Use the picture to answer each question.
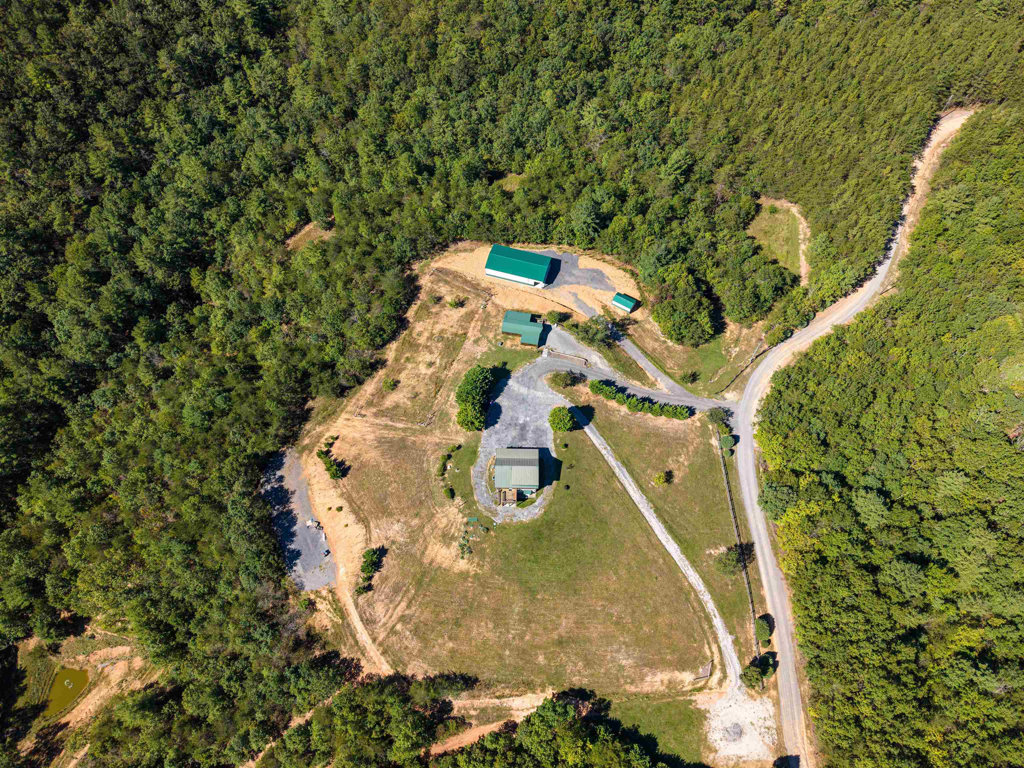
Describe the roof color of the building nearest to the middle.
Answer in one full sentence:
From above, the roof of the building nearest to the middle looks green.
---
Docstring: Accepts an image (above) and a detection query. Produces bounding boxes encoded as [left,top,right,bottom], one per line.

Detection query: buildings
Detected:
[483,243,552,290]
[501,311,546,351]
[495,448,539,510]
[612,291,638,314]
